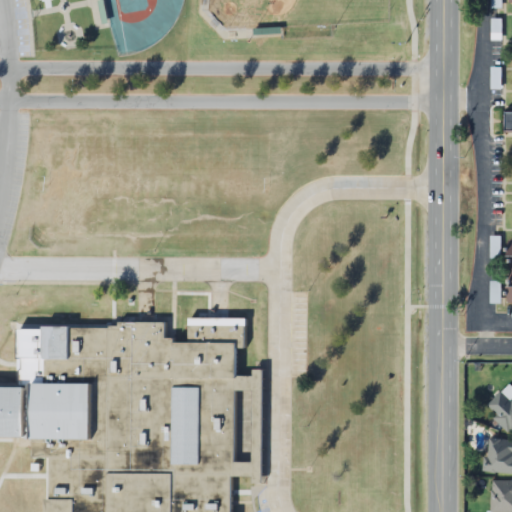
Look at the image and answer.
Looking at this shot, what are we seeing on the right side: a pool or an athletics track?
pool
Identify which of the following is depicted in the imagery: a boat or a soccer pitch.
soccer pitch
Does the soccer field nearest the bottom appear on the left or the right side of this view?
left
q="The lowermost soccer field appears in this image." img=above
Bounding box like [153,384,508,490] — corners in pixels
[40,113,268,246]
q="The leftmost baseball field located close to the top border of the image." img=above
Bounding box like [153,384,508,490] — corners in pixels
[106,0,185,52]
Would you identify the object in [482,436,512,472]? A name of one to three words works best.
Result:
house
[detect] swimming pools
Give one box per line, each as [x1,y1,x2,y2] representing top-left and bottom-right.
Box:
[468,420,495,454]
